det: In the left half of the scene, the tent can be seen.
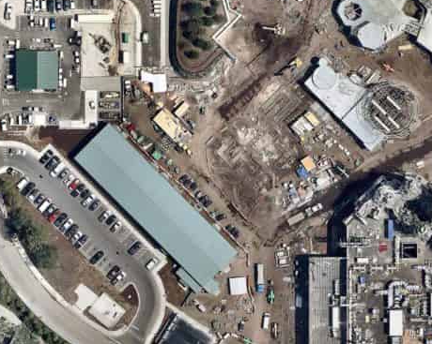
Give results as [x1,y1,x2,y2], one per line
[141,70,167,92]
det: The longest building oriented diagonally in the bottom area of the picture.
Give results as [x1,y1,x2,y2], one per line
[73,126,235,293]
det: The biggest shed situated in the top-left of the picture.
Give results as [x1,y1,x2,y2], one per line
[15,49,58,91]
